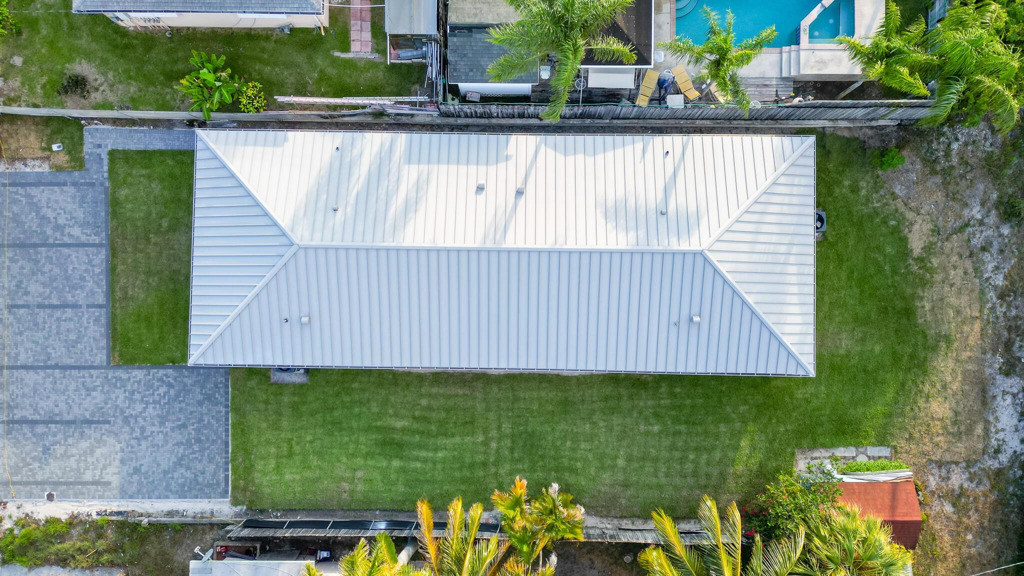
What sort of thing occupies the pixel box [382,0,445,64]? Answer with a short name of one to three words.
shed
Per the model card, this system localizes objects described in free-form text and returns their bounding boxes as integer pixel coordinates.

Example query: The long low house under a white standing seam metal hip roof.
[189,129,816,376]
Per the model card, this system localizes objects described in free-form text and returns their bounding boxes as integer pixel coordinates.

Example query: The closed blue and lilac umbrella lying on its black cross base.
[651,75,675,107]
